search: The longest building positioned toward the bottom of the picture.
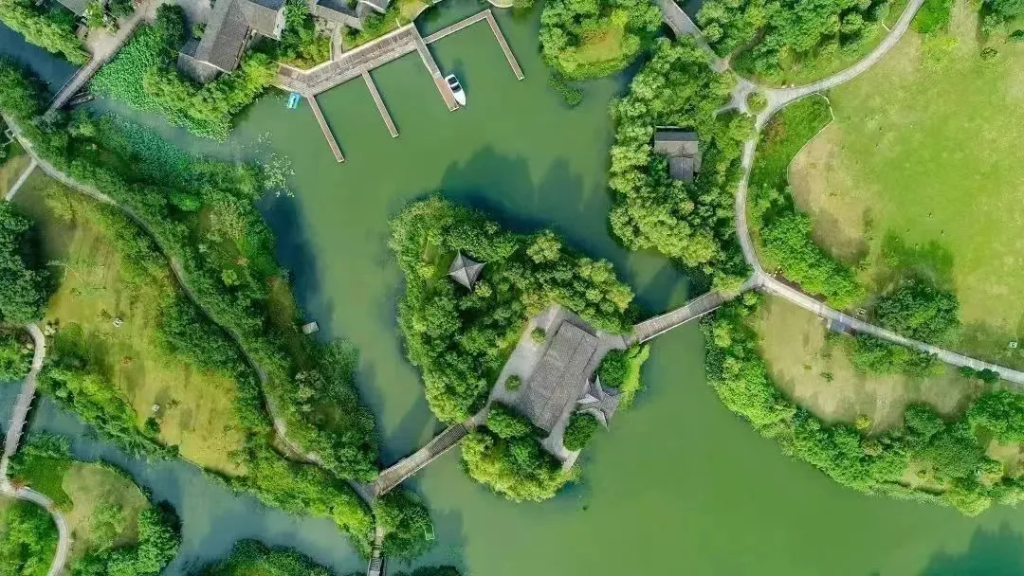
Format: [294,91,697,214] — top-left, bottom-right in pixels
[515,321,598,429]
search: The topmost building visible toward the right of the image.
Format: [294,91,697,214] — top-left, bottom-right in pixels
[651,131,700,156]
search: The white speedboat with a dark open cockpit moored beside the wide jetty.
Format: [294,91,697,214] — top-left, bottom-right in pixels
[445,74,466,107]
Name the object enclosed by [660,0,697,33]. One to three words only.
bridge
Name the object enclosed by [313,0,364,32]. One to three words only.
house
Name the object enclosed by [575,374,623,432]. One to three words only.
building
